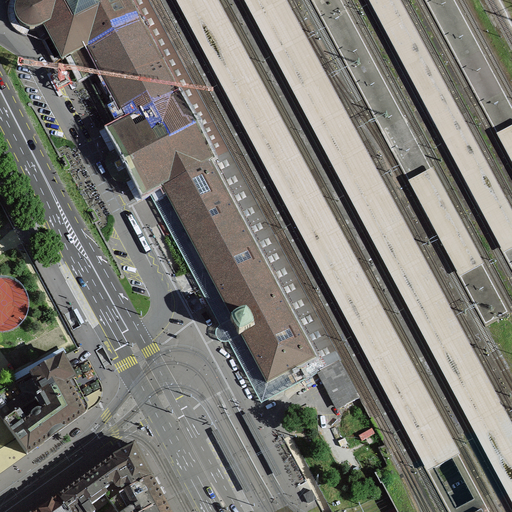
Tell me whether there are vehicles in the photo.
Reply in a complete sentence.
Yes, there is a vehicle in the image.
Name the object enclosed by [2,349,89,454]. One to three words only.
building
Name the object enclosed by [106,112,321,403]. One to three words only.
building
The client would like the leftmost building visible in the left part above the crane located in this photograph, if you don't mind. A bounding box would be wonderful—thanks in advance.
[5,0,50,35]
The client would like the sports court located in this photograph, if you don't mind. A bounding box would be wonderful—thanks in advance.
[0,274,31,334]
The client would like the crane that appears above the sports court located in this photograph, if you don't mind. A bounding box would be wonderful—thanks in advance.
[16,61,215,96]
